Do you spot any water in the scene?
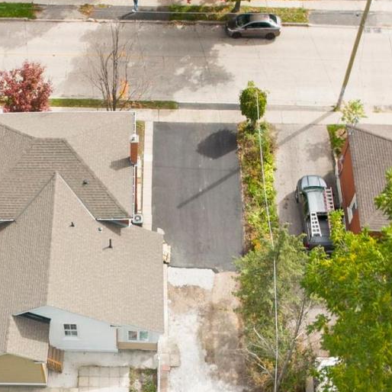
No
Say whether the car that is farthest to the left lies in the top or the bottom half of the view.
top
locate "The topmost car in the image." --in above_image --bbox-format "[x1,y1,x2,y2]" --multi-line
[224,17,282,42]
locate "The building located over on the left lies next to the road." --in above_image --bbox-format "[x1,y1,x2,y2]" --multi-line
[0,111,166,387]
